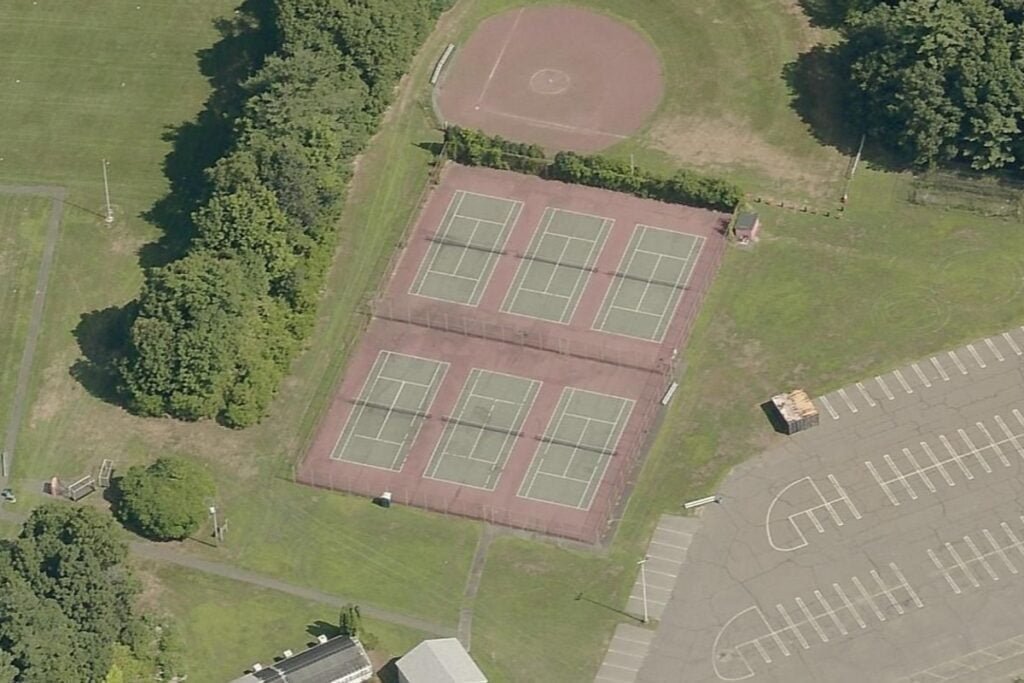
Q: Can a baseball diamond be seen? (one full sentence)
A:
Yes, a baseball diamond appears in the view.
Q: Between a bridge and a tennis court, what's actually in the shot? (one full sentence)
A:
This aerial view contains a tennis court.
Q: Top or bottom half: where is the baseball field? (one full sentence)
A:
Seen from above, the baseball field lies in the top half of the view.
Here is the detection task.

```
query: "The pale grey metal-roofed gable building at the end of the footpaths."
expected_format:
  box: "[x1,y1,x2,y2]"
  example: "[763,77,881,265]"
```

[395,637,489,683]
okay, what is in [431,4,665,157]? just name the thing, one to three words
baseball field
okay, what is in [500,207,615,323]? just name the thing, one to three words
tennis court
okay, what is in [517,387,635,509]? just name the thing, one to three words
tennis court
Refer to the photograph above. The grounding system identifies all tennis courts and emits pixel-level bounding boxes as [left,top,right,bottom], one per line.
[330,350,450,471]
[408,190,523,306]
[517,387,635,509]
[500,207,615,323]
[423,368,542,490]
[592,224,706,341]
